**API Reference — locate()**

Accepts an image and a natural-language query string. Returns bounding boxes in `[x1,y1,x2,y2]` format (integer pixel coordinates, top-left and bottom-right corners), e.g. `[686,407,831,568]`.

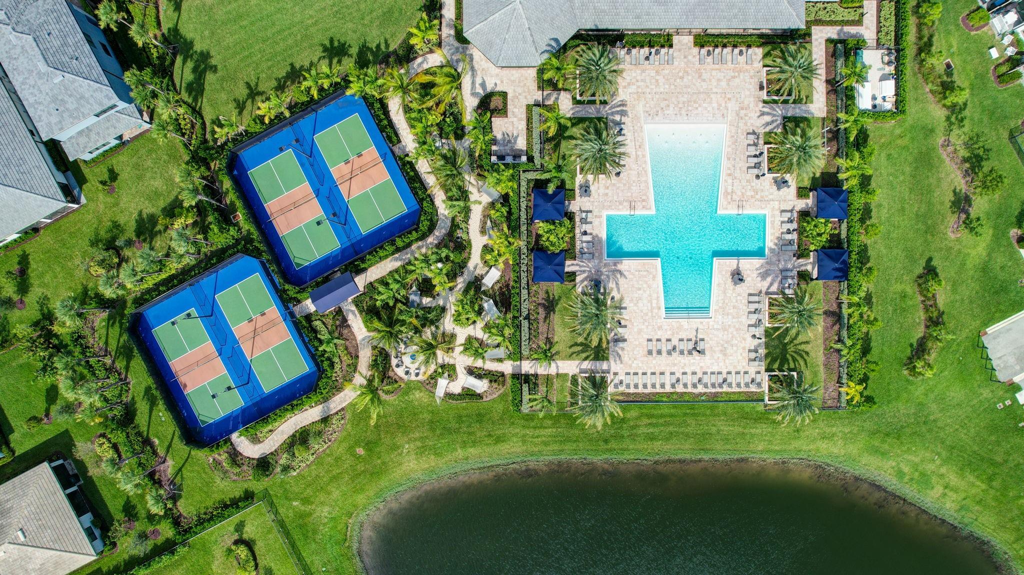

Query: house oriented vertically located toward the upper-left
[0,64,79,243]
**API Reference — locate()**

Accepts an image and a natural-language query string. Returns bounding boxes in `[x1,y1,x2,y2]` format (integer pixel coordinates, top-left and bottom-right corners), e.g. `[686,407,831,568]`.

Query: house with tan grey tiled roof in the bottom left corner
[0,457,117,575]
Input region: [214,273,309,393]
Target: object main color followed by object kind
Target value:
green sports court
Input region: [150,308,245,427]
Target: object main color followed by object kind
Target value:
green sports court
